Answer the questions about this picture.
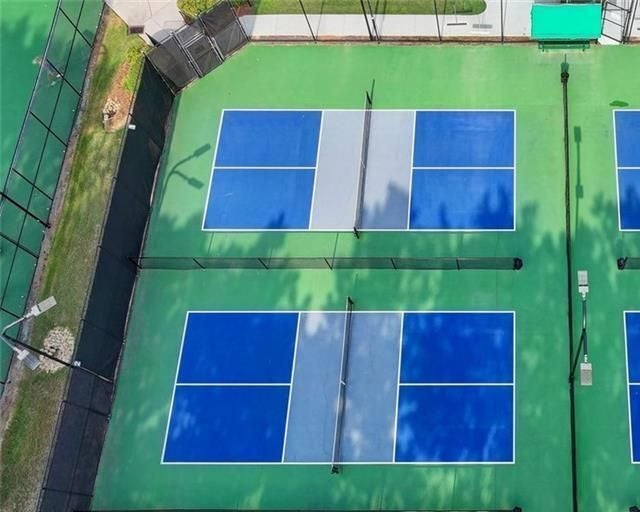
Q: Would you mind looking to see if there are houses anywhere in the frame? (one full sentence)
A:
No, no house can be seen from above.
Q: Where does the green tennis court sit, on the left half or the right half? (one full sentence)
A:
The green tennis court sits on the left side.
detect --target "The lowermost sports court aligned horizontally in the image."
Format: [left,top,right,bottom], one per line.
[161,310,515,464]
